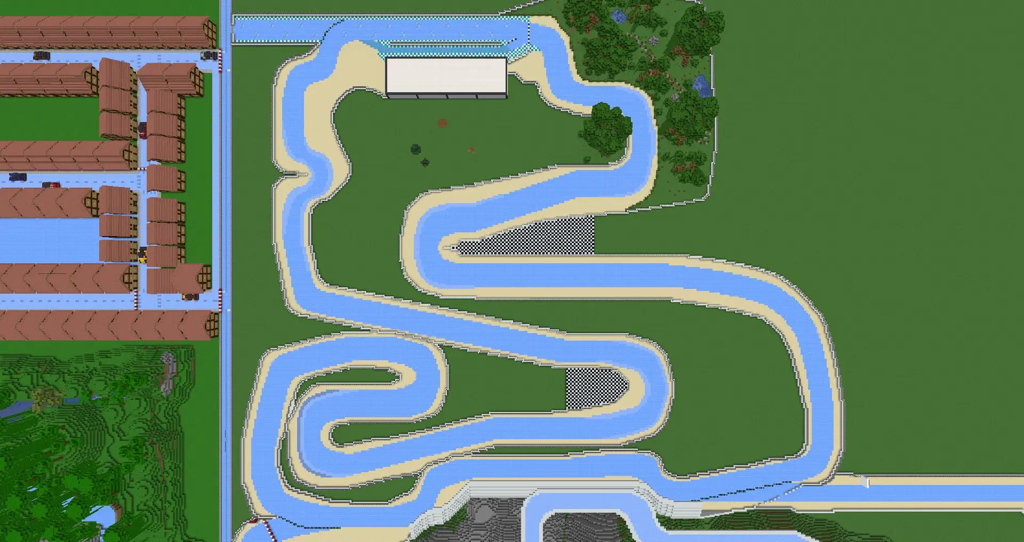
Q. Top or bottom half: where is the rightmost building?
top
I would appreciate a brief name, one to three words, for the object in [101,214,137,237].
house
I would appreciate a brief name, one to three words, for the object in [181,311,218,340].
house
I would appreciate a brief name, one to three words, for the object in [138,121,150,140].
vehicle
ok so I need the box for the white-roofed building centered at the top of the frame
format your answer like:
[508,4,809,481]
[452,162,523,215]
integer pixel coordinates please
[386,57,508,99]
